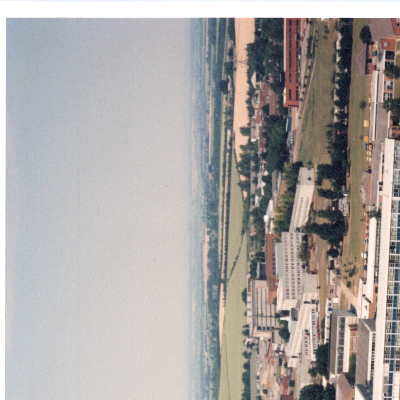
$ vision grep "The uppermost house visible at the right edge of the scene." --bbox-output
[372,9,400,40]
